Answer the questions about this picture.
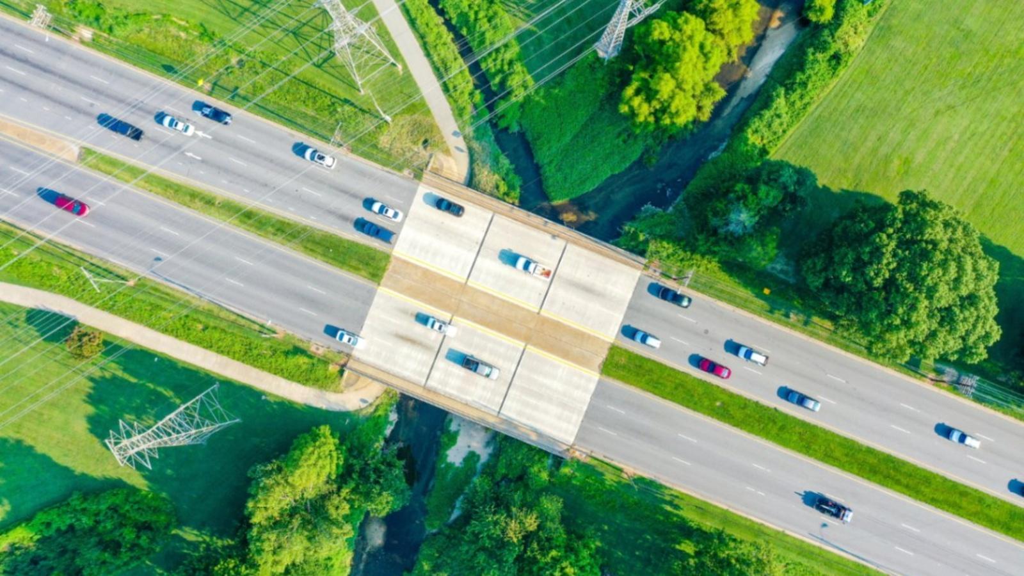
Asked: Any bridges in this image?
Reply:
Yes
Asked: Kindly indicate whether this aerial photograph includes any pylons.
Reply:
Yes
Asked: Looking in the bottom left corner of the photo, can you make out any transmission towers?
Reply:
Yes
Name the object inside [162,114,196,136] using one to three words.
car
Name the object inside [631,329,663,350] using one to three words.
car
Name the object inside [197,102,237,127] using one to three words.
truck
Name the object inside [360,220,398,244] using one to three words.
truck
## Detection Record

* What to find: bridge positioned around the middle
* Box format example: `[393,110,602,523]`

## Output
[335,164,659,461]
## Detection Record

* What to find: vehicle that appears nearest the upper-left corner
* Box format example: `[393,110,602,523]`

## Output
[110,118,150,143]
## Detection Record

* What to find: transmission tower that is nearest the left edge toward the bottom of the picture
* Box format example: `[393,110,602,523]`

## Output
[104,381,242,468]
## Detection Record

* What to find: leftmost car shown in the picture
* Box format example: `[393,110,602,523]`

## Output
[54,194,89,216]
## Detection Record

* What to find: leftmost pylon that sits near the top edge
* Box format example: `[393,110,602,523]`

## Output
[314,0,404,97]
